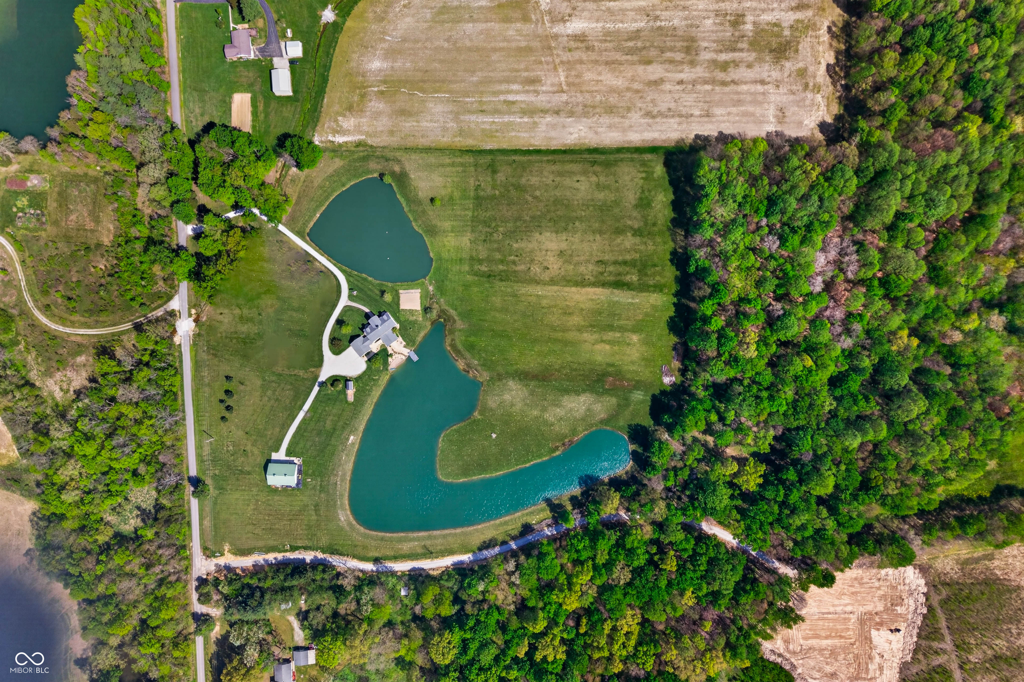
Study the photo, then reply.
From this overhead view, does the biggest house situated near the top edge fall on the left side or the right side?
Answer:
left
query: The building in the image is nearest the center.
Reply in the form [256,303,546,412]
[351,312,400,359]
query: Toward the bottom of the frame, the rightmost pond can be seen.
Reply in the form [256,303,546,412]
[348,319,632,532]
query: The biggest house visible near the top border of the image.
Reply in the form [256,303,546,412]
[224,29,262,61]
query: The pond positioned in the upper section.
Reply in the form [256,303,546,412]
[308,177,433,283]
